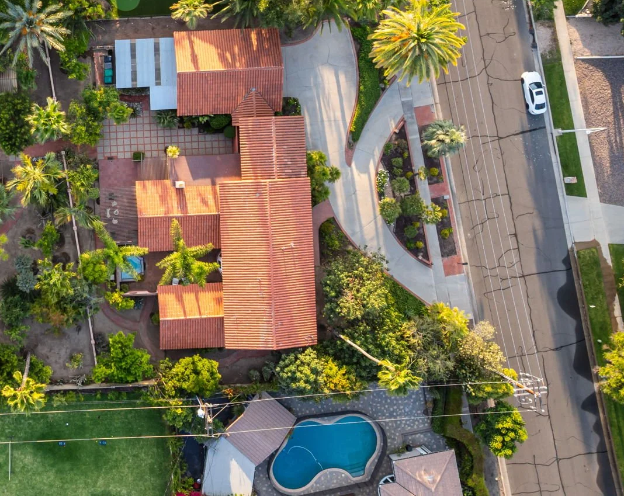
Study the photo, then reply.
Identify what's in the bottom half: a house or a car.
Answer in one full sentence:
Visible in the bottom half is a house.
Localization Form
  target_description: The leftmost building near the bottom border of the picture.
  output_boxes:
[201,391,296,496]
